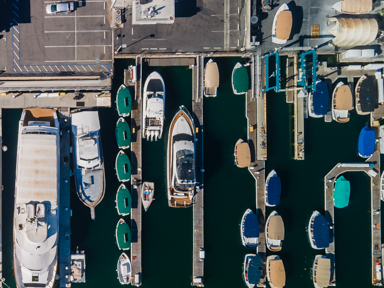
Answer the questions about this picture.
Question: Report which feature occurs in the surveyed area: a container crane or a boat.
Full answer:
This aerial view contains a boat.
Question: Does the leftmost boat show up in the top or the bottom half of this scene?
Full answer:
You can find the leftmost boat in the bottom half.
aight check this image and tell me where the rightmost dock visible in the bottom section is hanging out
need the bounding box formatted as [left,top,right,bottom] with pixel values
[323,117,381,285]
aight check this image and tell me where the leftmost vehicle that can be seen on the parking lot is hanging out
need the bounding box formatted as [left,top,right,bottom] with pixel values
[45,1,75,15]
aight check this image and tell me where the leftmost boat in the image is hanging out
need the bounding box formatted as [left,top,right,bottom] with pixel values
[12,107,57,288]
